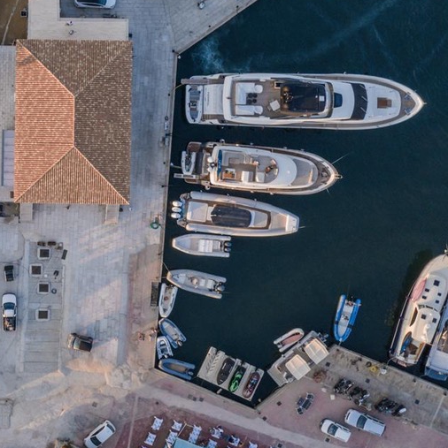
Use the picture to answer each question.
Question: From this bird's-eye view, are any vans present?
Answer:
Yes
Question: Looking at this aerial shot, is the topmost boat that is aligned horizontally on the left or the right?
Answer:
right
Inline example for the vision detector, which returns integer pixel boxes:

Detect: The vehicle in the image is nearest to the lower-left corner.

[85,421,117,448]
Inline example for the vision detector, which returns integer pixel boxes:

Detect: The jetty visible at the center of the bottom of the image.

[197,346,263,402]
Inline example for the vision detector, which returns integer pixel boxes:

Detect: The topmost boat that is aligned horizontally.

[175,70,427,133]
